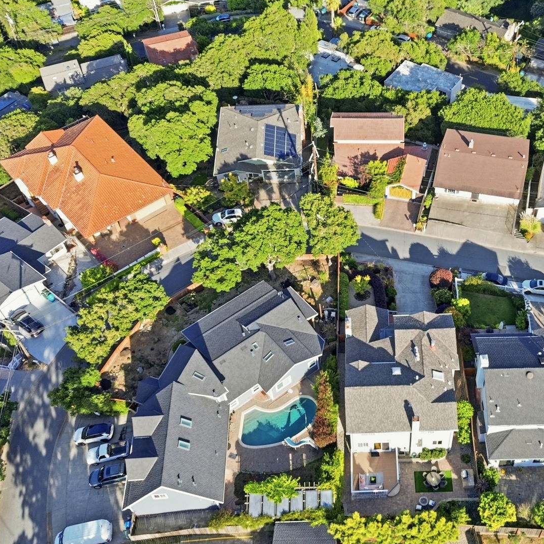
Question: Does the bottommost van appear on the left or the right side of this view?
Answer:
left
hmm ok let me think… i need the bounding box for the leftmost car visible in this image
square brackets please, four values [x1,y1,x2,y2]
[11,314,43,338]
